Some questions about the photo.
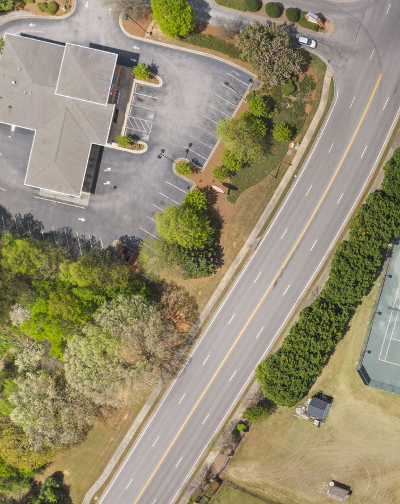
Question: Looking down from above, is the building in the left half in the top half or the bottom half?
top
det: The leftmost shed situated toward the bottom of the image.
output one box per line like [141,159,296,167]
[307,398,330,419]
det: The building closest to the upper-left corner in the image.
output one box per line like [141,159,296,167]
[0,33,129,197]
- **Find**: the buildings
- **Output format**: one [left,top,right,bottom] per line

[0,33,129,197]
[327,486,349,501]
[307,398,330,419]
